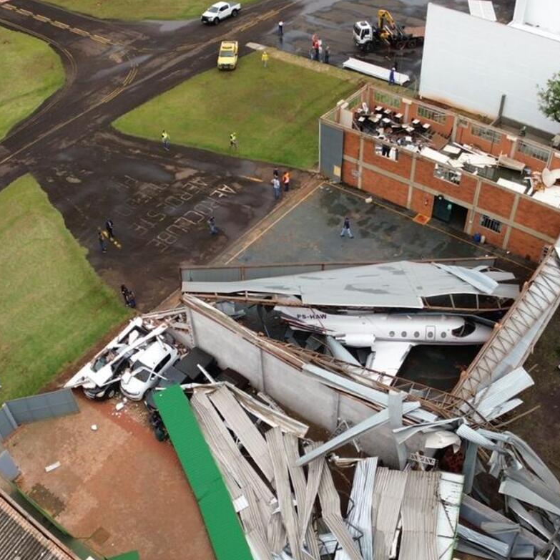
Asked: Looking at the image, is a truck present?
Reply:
Yes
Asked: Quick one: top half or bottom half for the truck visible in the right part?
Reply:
top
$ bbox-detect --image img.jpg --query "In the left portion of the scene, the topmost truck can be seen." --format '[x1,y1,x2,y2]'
[198,1,241,26]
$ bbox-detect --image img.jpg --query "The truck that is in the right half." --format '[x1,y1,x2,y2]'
[350,0,426,51]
